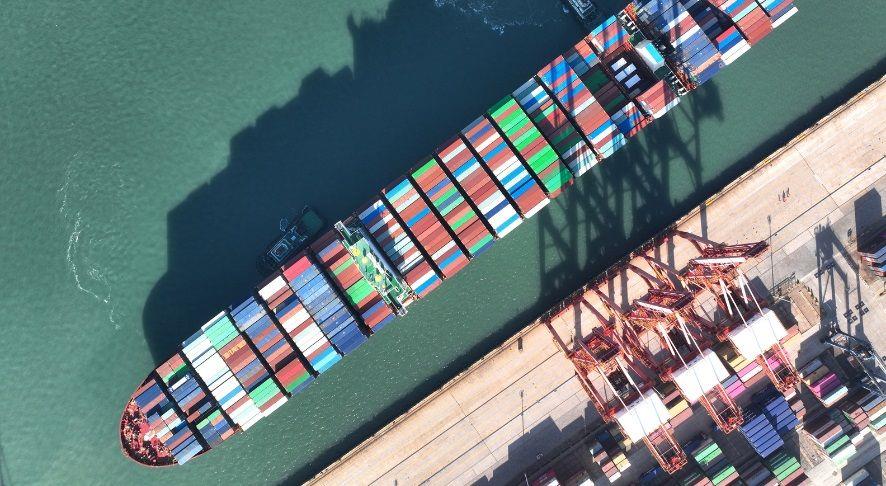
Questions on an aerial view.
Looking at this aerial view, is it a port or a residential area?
port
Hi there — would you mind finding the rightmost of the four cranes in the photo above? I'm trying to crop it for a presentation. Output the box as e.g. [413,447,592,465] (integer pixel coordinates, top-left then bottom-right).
[820,328,886,401]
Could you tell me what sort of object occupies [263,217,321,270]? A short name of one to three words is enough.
boat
